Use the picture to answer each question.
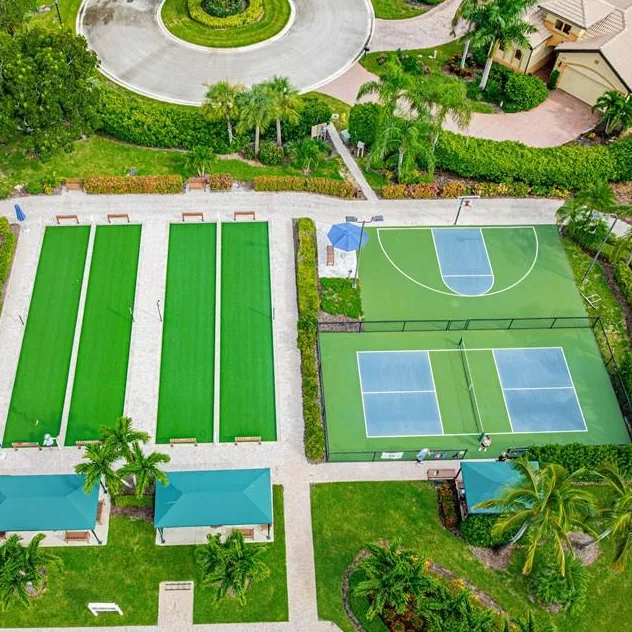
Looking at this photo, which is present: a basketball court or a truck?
basketball court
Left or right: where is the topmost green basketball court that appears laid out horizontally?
right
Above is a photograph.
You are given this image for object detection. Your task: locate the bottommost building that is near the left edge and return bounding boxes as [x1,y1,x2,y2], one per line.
[0,473,107,549]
